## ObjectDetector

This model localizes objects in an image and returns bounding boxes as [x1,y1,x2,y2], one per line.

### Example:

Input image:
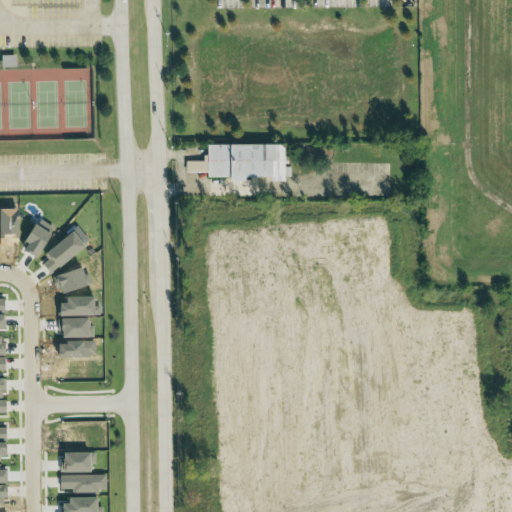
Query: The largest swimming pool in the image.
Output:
[26,202,44,218]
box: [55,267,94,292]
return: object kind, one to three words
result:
house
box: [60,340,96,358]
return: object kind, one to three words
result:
house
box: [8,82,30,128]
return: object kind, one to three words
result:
tennis court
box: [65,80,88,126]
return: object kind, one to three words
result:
tennis court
